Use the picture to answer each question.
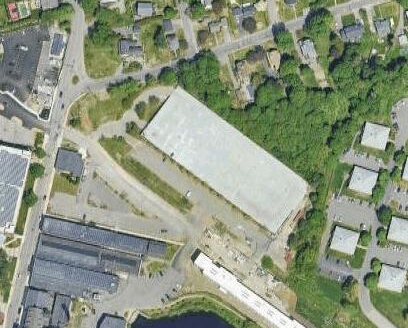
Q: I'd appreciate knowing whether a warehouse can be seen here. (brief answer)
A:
Yes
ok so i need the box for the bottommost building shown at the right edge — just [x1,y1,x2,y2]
[378,265,406,293]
